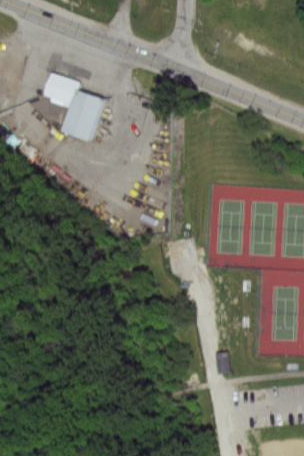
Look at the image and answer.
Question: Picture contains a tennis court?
Yes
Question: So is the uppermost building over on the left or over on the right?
left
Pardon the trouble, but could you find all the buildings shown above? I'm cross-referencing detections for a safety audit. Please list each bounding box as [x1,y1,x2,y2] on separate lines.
[43,72,81,108]
[62,90,106,142]
[218,351,230,374]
